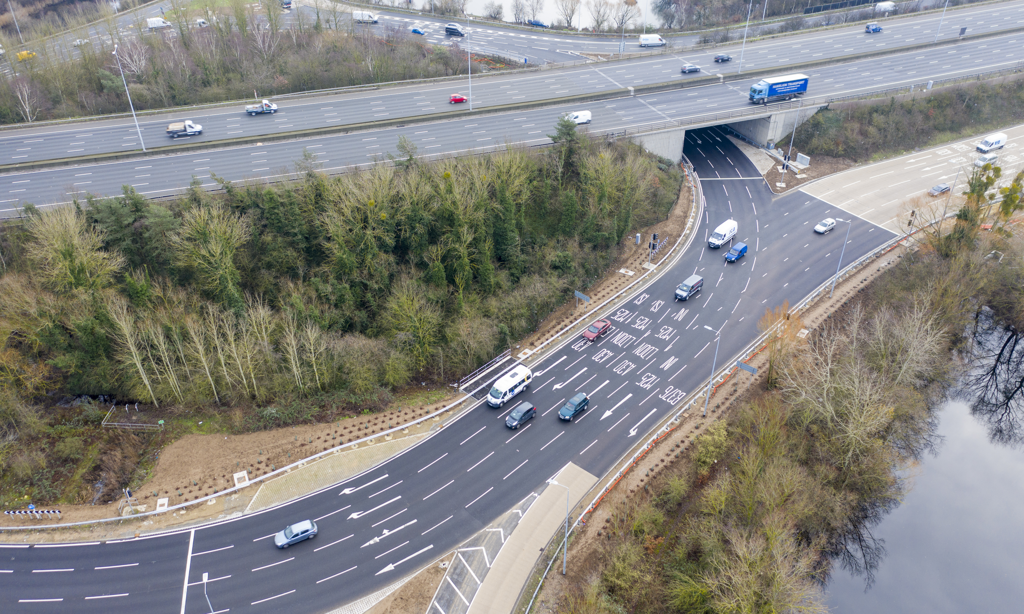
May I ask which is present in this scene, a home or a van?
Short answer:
van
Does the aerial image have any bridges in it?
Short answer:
Yes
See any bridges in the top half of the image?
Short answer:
Yes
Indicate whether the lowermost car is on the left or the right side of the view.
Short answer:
left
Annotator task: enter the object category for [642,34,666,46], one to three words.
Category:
vehicle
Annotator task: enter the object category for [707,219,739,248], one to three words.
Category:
van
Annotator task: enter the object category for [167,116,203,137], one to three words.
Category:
truck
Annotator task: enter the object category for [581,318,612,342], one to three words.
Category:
car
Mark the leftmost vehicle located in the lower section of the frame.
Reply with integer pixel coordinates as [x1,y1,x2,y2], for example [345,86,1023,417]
[272,517,320,549]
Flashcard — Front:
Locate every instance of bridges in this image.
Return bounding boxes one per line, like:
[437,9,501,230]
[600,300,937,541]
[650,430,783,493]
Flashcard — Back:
[542,47,836,166]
